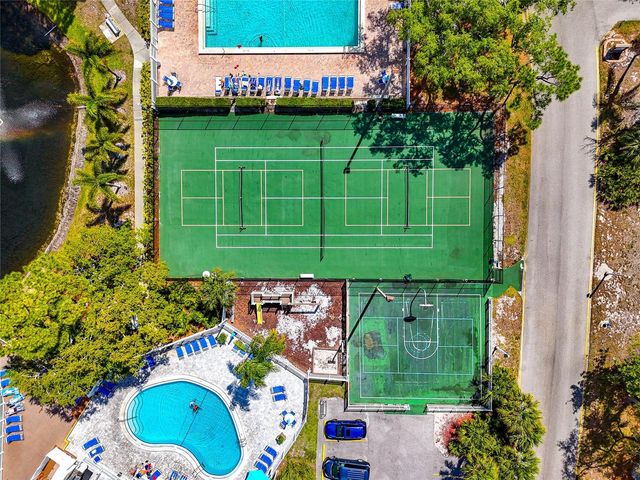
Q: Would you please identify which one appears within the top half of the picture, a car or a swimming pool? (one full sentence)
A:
Looking within the top half of the picture, you will find a swimming pool.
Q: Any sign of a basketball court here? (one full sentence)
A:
Yes, a basketball court can be made out from above.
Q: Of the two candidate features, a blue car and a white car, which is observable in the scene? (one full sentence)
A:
The one in the frame is a blue car.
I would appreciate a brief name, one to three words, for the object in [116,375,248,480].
swimming pool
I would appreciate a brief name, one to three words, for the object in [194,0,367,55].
swimming pool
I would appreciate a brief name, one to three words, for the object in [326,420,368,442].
car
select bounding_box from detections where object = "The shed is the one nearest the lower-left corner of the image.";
[32,436,89,480]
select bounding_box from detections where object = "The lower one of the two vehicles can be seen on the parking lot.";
[325,458,370,480]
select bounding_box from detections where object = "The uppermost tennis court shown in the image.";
[158,113,492,280]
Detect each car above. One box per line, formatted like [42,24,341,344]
[325,458,370,480]
[326,420,368,442]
